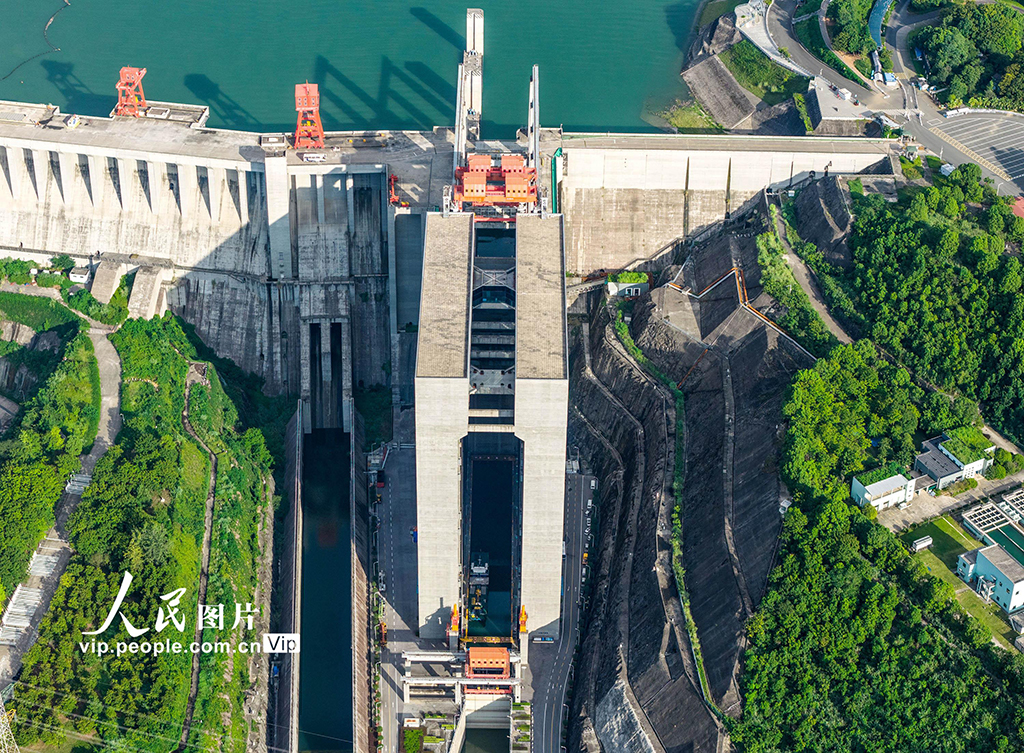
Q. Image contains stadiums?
No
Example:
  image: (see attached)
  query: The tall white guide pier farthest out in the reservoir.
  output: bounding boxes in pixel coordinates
[466,8,483,53]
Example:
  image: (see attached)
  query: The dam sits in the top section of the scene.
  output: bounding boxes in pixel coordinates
[0,94,909,429]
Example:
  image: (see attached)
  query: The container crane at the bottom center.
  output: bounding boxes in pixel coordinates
[464,646,511,686]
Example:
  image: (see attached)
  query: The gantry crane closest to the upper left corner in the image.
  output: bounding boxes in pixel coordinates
[114,62,151,120]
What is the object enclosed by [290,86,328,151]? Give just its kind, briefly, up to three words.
container crane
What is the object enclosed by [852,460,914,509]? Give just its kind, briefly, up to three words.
building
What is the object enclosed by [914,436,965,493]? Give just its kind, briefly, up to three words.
building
